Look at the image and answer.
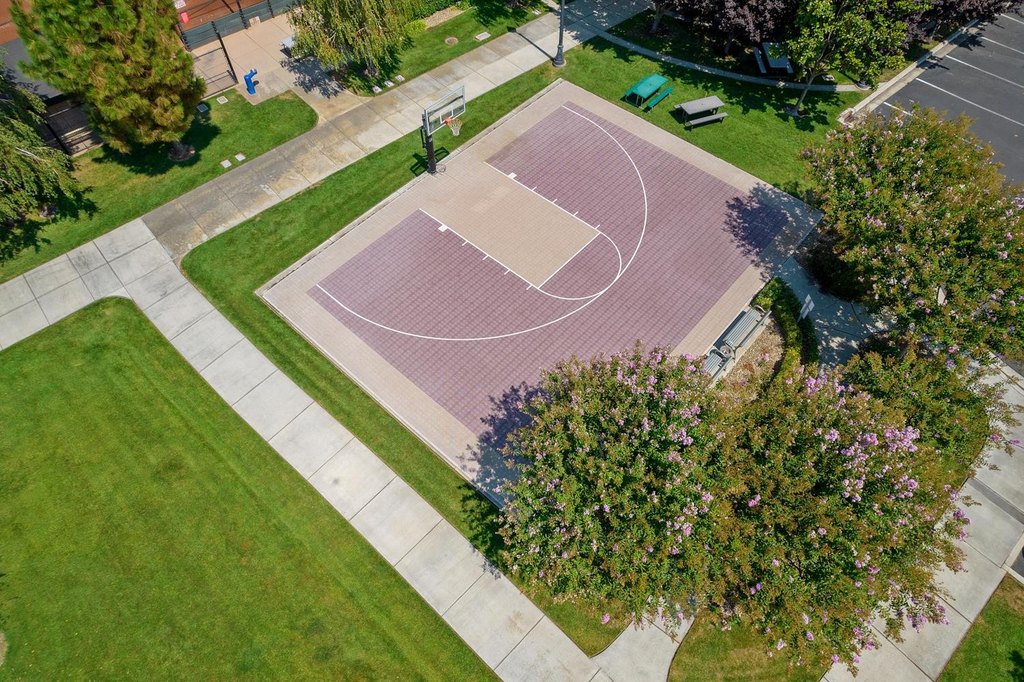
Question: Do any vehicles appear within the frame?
No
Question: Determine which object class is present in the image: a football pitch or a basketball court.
basketball court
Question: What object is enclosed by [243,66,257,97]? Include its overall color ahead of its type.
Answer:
blue fountain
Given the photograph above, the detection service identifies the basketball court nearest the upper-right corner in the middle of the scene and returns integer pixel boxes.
[255,78,824,539]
